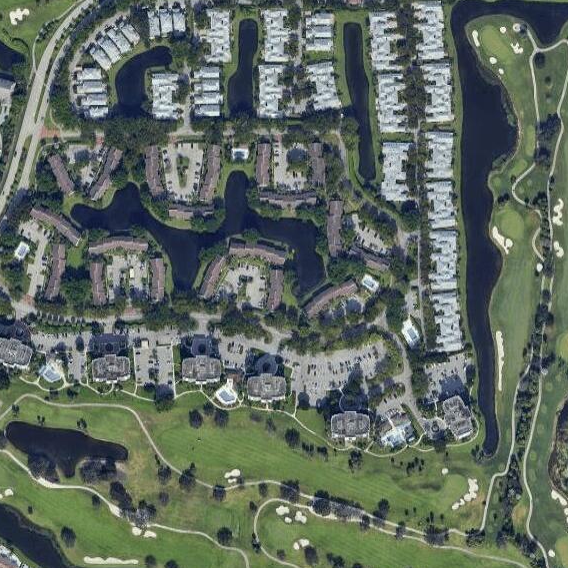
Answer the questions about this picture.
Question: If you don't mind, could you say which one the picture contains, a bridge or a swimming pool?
swimming pool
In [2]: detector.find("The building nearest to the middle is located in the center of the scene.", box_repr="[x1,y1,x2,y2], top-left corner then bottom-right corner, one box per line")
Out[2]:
[266,270,282,312]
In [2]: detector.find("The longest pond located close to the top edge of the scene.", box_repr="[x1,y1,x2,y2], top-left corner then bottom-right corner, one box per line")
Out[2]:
[345,23,375,180]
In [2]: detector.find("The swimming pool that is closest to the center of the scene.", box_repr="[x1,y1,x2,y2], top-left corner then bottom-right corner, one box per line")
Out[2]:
[362,274,381,291]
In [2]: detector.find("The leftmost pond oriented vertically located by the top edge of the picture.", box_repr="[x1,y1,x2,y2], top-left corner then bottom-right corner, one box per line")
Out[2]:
[227,20,258,116]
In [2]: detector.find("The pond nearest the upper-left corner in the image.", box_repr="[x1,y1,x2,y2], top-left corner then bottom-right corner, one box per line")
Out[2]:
[115,47,172,114]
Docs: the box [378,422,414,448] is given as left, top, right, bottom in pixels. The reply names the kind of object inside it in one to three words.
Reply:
swimming pool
